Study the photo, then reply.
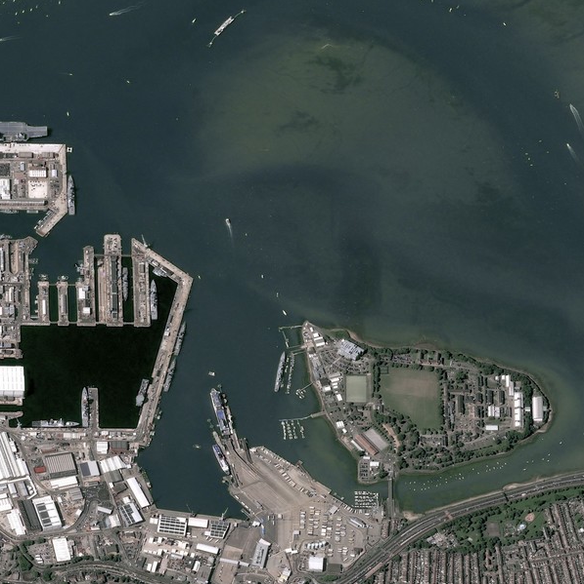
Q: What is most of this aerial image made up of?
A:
water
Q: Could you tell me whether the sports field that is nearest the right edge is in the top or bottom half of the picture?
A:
bottom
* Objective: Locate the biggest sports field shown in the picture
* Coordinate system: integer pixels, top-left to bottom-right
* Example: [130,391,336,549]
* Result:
[378,365,443,429]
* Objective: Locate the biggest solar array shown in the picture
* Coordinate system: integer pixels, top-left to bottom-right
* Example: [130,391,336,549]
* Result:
[159,518,186,534]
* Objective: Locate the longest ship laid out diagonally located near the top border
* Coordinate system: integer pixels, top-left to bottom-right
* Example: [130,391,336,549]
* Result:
[214,16,235,35]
